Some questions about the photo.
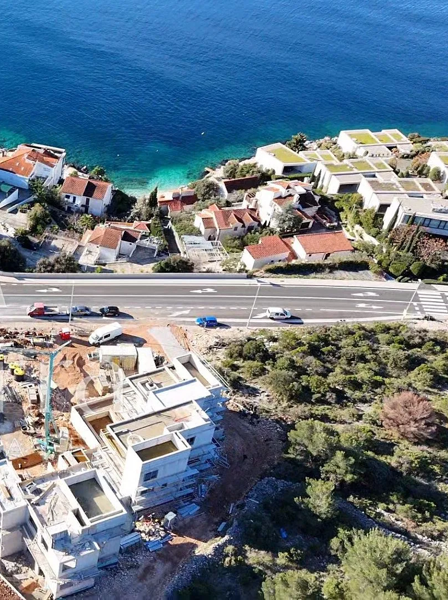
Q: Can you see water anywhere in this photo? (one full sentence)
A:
Yes, water can be seen from above here.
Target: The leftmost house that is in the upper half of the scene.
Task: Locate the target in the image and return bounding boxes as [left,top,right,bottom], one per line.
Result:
[0,151,77,196]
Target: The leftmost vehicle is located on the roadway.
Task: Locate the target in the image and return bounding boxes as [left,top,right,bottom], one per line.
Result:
[27,302,59,318]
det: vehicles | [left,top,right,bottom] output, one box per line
[27,302,59,318]
[265,306,294,320]
[194,316,221,327]
[89,320,124,345]
[97,304,122,316]
[67,304,93,316]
